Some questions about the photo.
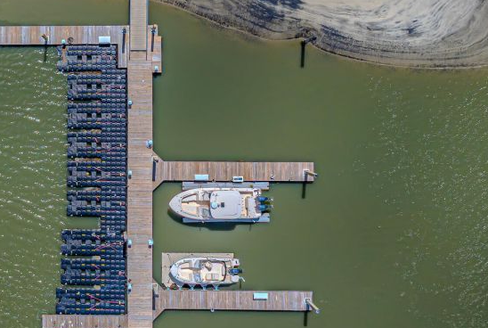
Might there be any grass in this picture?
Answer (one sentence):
No, grass can't be seen anywhere here.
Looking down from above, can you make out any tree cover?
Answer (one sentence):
No, tree cover can't be seen anywhere here.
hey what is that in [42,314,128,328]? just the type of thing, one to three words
pier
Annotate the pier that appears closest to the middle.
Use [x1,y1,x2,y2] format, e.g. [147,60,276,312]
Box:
[160,161,315,182]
